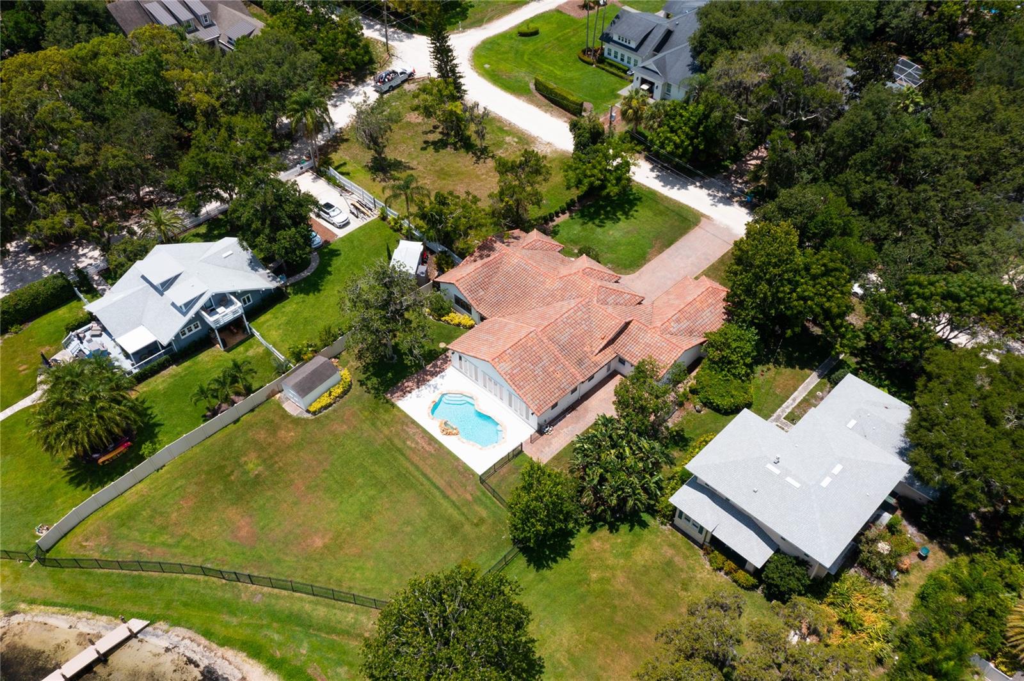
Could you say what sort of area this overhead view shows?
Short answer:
residential area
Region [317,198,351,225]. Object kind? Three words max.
car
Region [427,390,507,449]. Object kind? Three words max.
swimming pool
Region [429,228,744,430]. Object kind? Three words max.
house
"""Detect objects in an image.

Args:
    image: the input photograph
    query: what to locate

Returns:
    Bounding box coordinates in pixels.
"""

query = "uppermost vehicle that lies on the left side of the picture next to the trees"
[373,68,413,94]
